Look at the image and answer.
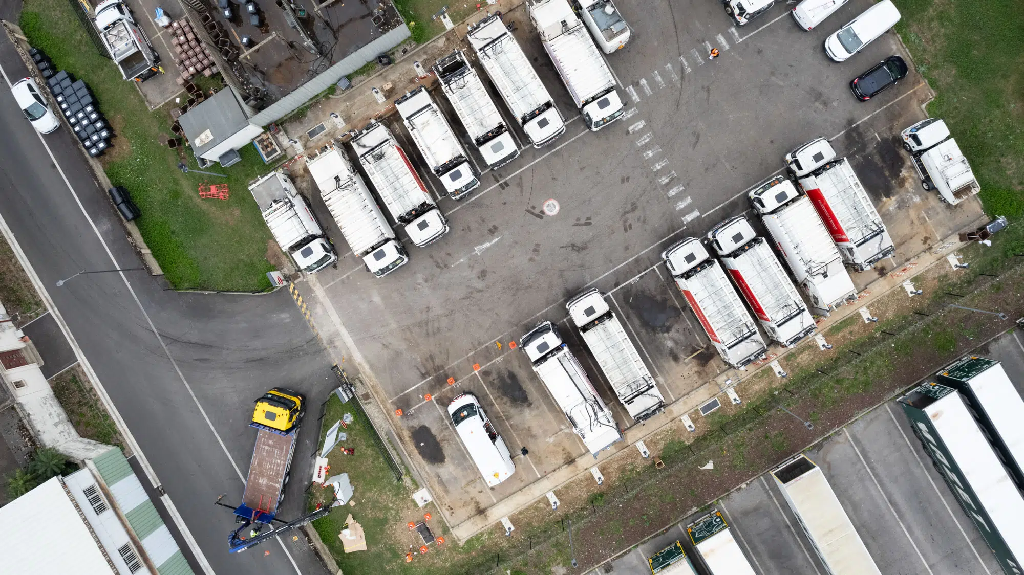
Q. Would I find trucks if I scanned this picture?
Yes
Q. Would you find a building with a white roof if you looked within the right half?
No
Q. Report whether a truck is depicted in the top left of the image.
Yes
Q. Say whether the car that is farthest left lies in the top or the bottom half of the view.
top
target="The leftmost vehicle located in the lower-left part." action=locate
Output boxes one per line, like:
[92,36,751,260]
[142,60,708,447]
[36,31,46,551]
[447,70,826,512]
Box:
[212,387,342,554]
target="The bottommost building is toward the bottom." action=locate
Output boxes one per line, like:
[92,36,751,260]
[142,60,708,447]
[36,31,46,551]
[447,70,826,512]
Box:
[0,447,195,575]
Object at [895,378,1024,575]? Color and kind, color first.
white trailer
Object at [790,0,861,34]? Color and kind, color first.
white van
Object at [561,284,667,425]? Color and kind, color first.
white truck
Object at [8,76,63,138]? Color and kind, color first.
white car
